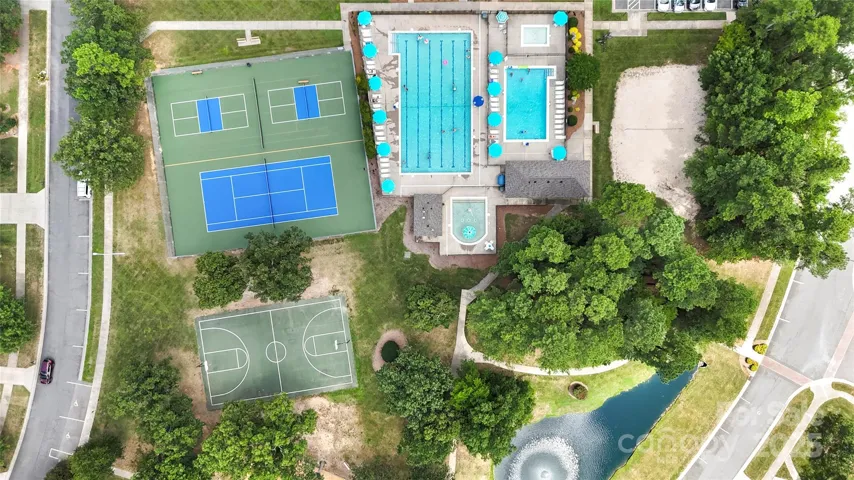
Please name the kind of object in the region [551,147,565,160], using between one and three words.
umbrella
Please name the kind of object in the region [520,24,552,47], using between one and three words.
swimming pool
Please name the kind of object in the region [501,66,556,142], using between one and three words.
swimming pool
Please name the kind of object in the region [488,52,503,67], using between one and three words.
umbrella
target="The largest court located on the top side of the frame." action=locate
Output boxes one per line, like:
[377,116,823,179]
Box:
[156,52,375,257]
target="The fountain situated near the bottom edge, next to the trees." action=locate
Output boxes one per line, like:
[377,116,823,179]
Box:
[503,434,585,480]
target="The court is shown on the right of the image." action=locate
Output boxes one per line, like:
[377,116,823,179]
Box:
[610,62,712,214]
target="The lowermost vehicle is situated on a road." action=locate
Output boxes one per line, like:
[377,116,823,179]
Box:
[38,357,56,384]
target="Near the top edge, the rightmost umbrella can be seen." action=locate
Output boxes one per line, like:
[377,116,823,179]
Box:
[552,13,566,28]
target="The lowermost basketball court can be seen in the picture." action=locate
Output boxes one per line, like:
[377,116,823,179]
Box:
[196,296,357,410]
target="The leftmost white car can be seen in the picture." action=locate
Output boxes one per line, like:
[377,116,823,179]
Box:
[76,173,92,200]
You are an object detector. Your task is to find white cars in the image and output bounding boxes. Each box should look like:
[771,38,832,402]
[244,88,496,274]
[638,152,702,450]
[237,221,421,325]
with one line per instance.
[703,0,717,12]
[657,0,671,12]
[673,0,686,14]
[76,173,92,200]
[689,0,702,12]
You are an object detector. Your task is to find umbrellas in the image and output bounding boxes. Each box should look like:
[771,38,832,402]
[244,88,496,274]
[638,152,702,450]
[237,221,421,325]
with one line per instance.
[488,52,503,67]
[552,13,566,28]
[362,44,377,59]
[474,96,484,107]
[373,110,387,124]
[377,142,391,157]
[380,179,394,193]
[551,147,565,160]
[487,112,502,128]
[368,77,382,92]
[495,12,506,25]
[486,82,500,97]
[358,12,371,27]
